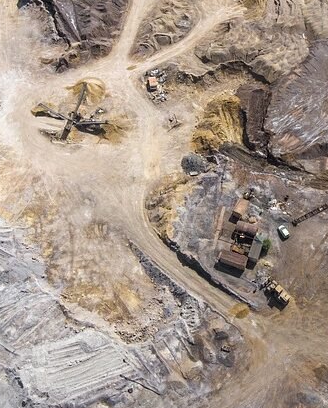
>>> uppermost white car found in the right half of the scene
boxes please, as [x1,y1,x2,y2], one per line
[277,226,291,239]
